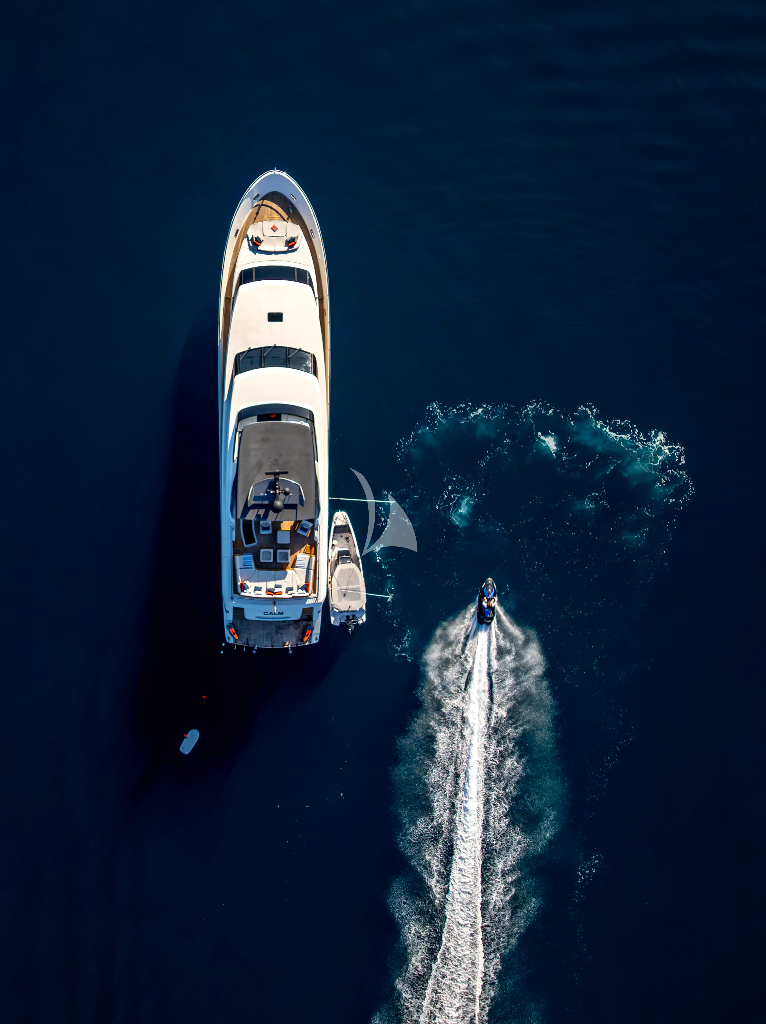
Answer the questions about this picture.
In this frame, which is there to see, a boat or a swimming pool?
boat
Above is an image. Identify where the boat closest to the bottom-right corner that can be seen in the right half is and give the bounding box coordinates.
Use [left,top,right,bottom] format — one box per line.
[477,577,496,625]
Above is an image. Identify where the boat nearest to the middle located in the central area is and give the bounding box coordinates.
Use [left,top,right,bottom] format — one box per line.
[330,511,366,636]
